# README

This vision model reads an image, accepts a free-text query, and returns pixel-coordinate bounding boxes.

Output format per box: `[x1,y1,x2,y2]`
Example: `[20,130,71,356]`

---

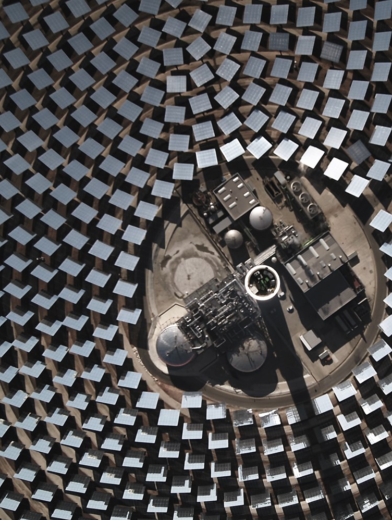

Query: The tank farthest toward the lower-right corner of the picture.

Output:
[227,331,267,373]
